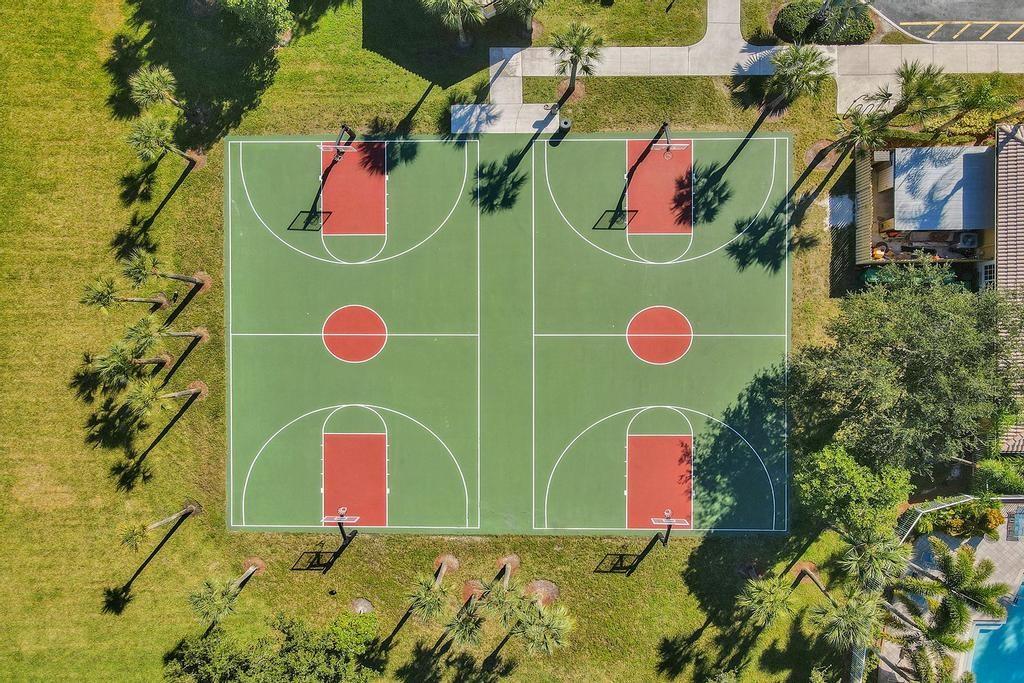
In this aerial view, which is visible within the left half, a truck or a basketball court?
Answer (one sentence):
It is a basketball court that can be seen within the left half.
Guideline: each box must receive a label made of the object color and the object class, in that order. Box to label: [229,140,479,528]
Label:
green basketball court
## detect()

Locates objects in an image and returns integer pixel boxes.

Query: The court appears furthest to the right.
[533,138,789,530]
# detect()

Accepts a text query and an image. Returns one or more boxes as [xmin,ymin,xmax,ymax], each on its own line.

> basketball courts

[533,138,789,530]
[229,140,479,528]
